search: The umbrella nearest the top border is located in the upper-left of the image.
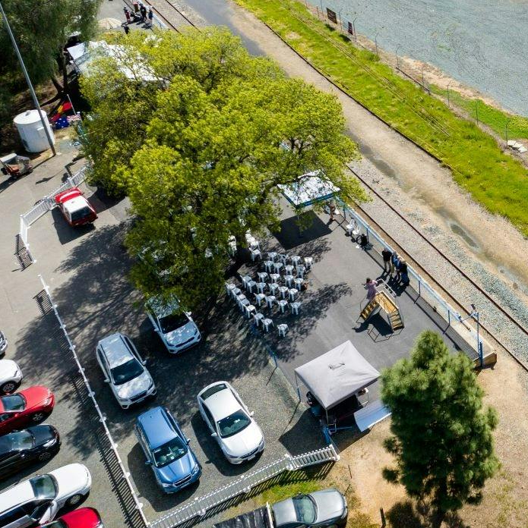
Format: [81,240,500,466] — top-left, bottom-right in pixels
[87,7,120,34]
